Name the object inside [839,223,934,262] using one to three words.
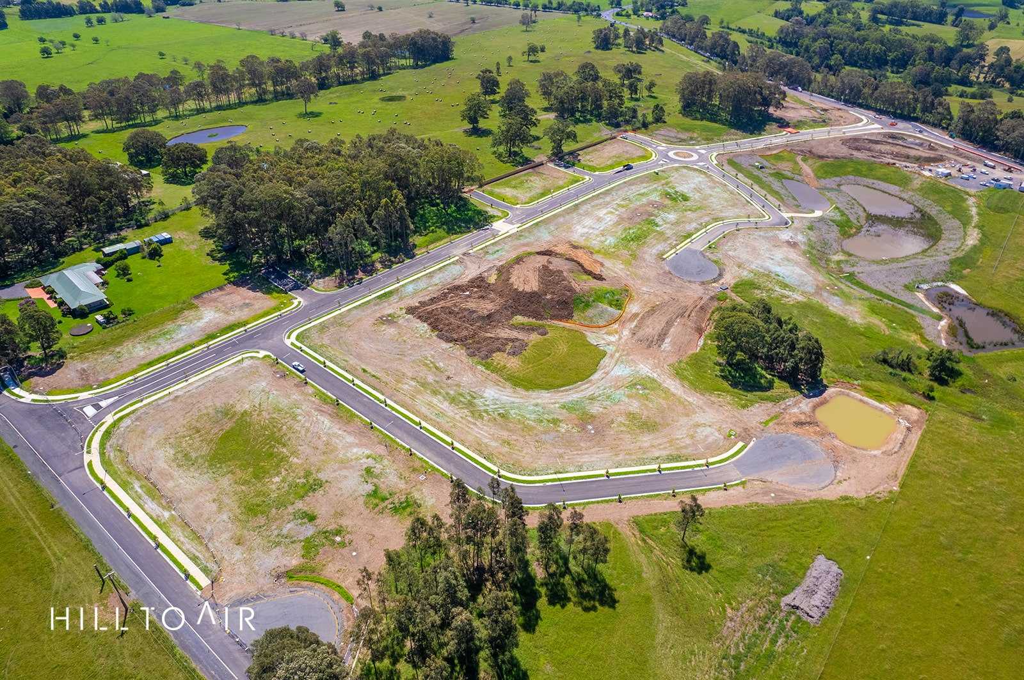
pond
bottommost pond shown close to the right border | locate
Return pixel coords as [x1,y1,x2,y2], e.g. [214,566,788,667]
[924,286,1024,356]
